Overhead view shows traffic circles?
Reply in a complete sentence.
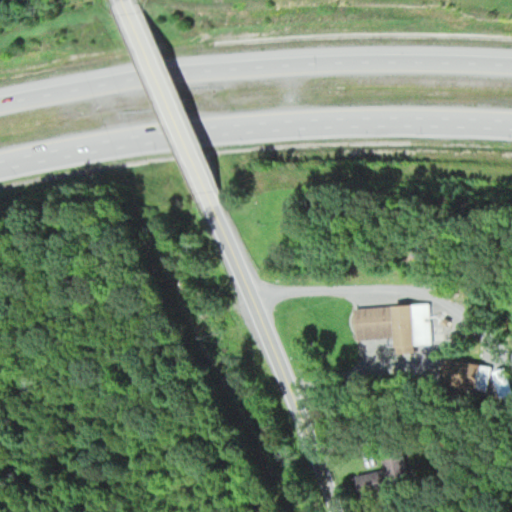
No, this view has no traffic circle in it.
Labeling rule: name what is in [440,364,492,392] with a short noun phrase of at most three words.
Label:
house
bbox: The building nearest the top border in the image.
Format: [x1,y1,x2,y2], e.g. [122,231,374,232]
[354,303,433,354]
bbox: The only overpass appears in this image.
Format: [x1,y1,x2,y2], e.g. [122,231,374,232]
[108,0,224,212]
